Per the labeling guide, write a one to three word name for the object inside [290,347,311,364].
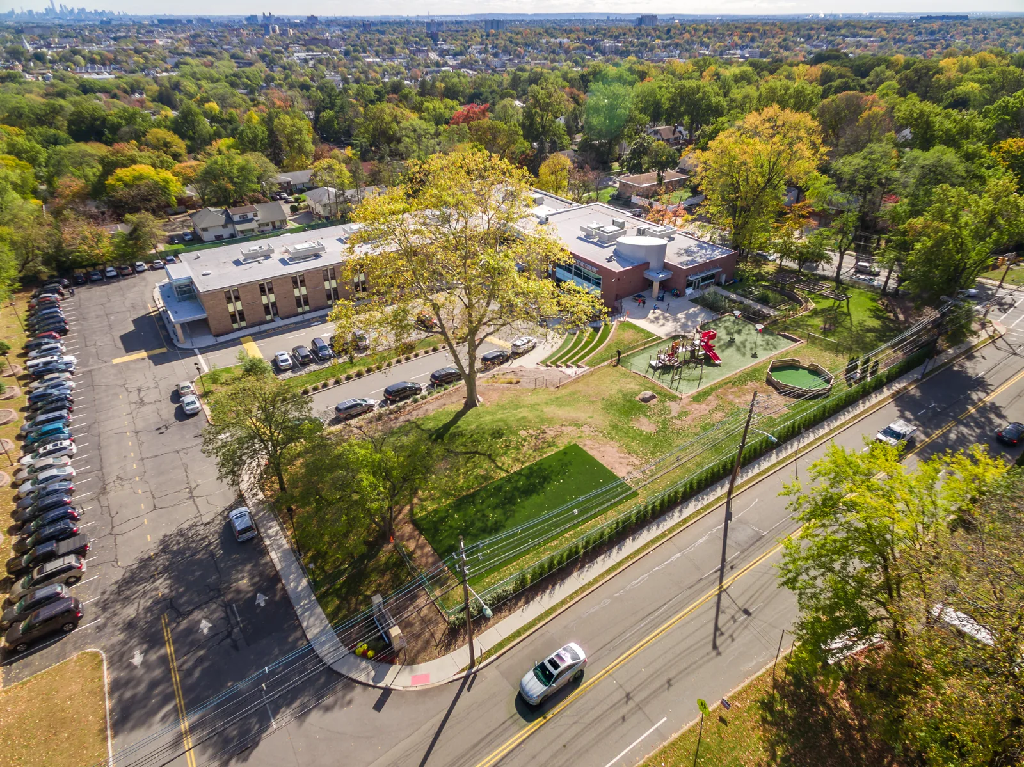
car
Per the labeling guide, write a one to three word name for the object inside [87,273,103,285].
vehicle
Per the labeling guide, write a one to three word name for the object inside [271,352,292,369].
car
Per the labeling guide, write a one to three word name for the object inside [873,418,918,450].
vehicle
